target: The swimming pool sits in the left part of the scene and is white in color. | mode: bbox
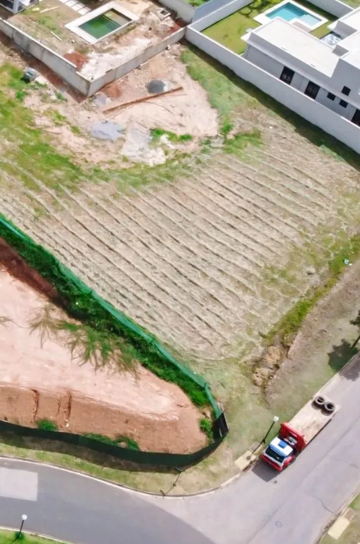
[65,1,137,43]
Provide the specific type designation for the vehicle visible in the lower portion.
truck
